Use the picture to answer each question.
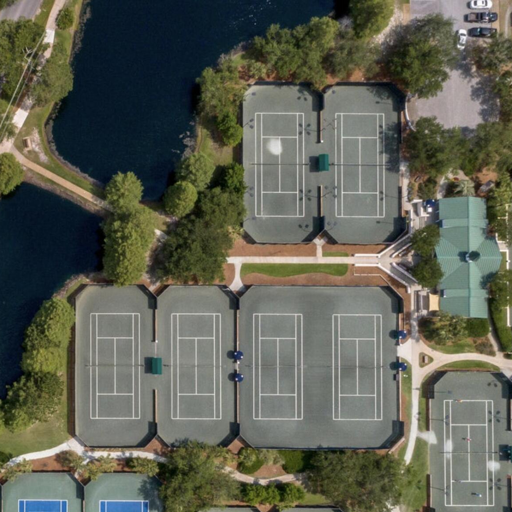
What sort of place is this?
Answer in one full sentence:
This image shows a sports ground.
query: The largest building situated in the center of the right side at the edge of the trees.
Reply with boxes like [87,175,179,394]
[432,196,502,318]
